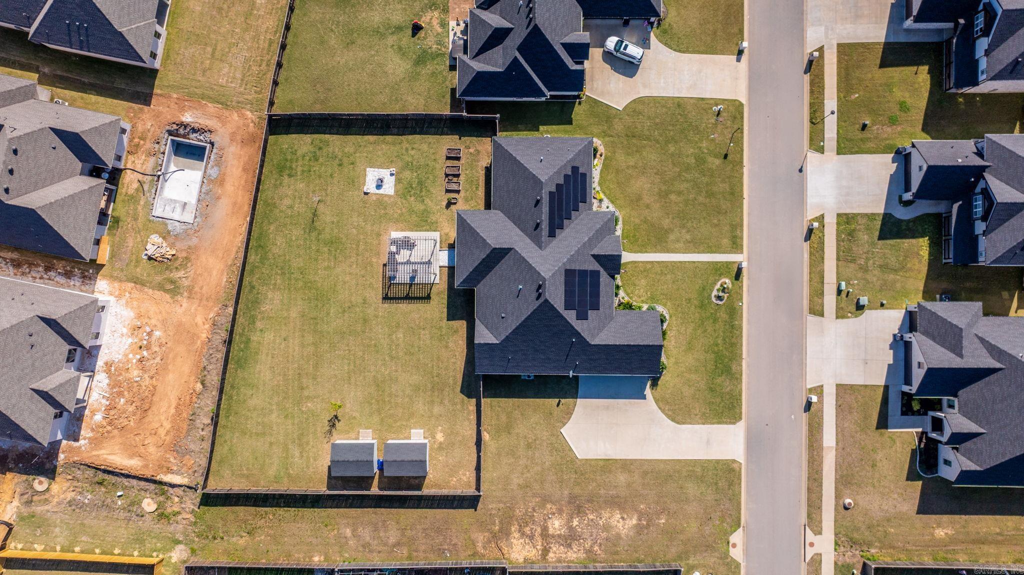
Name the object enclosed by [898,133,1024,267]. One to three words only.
house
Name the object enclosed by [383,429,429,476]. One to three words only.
shed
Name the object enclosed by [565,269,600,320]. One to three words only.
solar array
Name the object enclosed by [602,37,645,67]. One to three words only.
car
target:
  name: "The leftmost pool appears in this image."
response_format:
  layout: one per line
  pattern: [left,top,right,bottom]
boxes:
[152,137,212,224]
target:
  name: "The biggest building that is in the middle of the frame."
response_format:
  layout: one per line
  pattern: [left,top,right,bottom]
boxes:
[455,136,664,376]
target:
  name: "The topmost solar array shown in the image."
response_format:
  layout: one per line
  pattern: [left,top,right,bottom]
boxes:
[549,166,587,237]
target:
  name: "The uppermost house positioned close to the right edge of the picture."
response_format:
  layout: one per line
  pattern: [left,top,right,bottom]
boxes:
[898,0,1024,92]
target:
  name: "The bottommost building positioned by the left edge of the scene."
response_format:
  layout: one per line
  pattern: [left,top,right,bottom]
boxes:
[0,275,110,447]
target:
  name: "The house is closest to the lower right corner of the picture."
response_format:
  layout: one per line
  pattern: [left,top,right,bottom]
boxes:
[897,301,1024,487]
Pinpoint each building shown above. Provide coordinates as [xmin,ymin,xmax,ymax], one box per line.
[0,0,173,67]
[455,136,664,376]
[898,0,1024,92]
[0,73,133,263]
[456,0,663,100]
[897,301,1024,487]
[329,429,377,476]
[383,429,429,476]
[898,133,1024,267]
[0,275,110,447]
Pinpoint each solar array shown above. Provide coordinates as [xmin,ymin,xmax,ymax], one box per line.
[565,269,600,320]
[549,166,587,237]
